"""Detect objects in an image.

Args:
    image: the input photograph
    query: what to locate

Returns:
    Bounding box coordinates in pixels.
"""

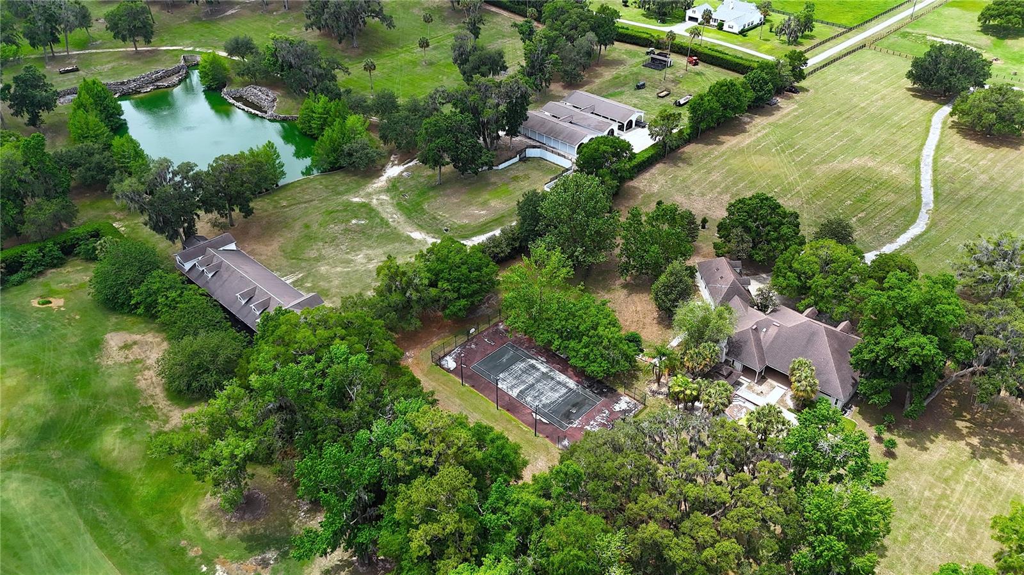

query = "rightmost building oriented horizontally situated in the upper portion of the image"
[686,5,778,34]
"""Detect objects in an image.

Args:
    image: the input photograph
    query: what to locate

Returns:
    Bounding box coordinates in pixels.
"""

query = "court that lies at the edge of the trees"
[434,322,644,462]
